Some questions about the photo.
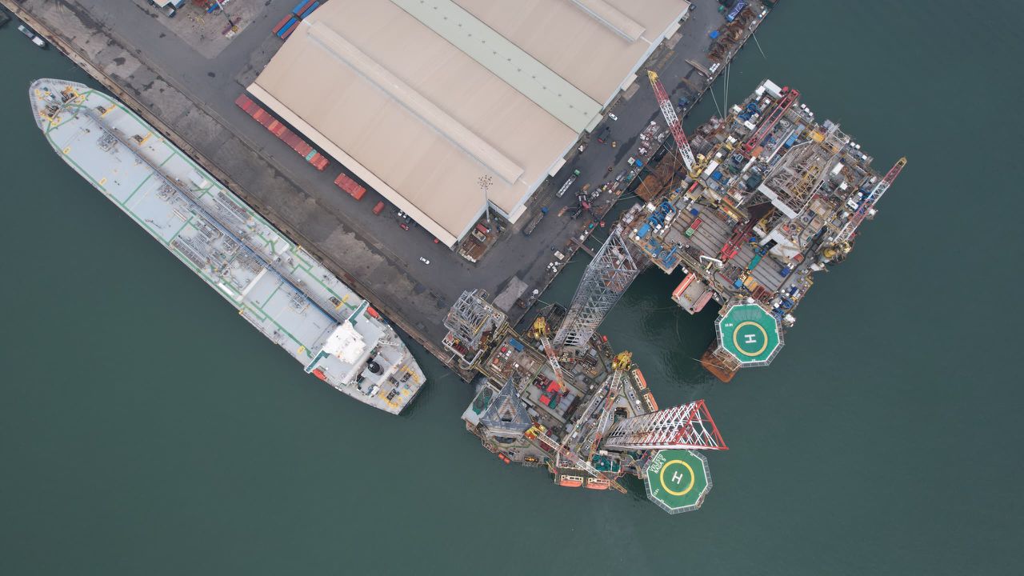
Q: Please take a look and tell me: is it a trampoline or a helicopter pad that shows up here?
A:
helicopter pad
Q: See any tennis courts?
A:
No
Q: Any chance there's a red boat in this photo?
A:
Yes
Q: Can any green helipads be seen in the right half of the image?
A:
Yes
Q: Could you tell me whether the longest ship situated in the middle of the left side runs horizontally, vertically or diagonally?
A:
diagonally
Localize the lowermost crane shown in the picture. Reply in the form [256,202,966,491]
[525,424,629,492]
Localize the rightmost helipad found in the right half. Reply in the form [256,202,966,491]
[714,298,785,369]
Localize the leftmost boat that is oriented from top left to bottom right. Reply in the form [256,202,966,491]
[20,27,42,45]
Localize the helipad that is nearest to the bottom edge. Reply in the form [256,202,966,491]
[641,449,713,515]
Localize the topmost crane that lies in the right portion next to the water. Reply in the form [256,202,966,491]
[649,71,714,180]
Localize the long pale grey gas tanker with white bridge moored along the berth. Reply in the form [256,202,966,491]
[25,76,427,415]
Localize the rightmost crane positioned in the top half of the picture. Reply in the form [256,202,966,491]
[831,159,906,256]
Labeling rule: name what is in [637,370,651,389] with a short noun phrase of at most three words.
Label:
boat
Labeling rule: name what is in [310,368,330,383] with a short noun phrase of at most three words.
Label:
boat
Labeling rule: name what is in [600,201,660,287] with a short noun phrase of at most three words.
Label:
ship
